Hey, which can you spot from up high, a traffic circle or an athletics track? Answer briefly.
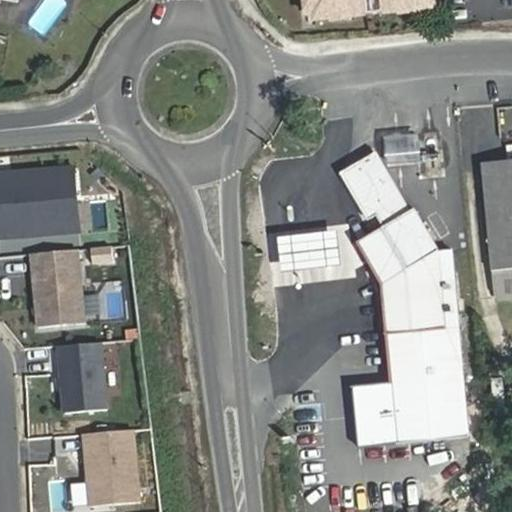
traffic circle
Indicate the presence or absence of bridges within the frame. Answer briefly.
No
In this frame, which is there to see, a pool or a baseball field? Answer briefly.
pool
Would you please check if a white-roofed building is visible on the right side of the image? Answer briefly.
Yes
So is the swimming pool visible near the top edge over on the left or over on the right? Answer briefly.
left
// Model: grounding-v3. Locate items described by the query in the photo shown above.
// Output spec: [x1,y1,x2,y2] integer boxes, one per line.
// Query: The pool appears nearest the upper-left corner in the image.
[28,0,67,36]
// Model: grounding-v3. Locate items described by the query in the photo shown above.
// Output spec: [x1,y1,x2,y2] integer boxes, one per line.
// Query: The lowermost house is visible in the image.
[70,430,142,508]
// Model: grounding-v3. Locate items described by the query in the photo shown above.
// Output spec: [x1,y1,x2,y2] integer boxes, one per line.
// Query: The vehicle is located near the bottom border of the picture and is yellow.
[356,484,368,510]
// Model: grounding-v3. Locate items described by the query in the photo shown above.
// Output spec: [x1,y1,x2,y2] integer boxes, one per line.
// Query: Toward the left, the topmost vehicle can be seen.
[152,2,165,26]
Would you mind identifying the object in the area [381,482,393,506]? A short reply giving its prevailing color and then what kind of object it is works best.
white vehicle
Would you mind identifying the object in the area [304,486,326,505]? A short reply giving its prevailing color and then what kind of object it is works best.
white vehicle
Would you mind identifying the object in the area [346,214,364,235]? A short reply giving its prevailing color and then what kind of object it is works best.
gray car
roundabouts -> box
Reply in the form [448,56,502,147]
[138,42,236,140]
